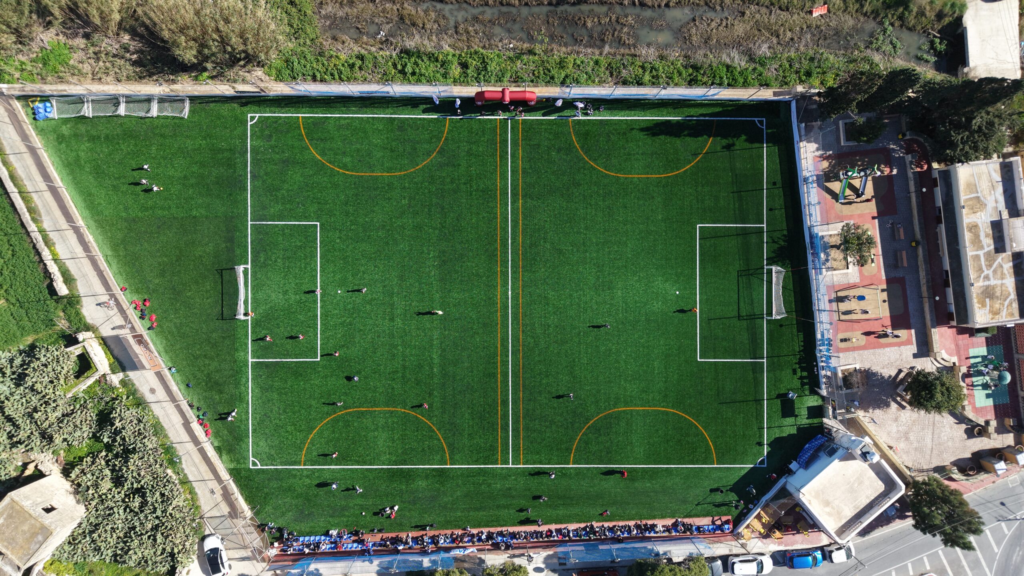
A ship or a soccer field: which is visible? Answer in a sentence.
Of the two, only a soccer field appears.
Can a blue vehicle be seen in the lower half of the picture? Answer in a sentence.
Yes, looking in the lower half of the picture, one can make out a blue vehicle.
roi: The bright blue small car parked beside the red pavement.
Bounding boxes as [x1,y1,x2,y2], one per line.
[784,548,822,572]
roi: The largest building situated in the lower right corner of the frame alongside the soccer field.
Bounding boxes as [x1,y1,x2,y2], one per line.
[784,426,907,545]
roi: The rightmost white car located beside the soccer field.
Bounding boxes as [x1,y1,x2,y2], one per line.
[727,552,772,576]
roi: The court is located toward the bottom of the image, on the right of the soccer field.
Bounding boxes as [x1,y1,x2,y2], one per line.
[932,324,1024,421]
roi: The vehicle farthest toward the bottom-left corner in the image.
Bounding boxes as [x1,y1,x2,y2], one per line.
[197,534,226,576]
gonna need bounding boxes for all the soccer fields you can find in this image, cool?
[15,97,824,544]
